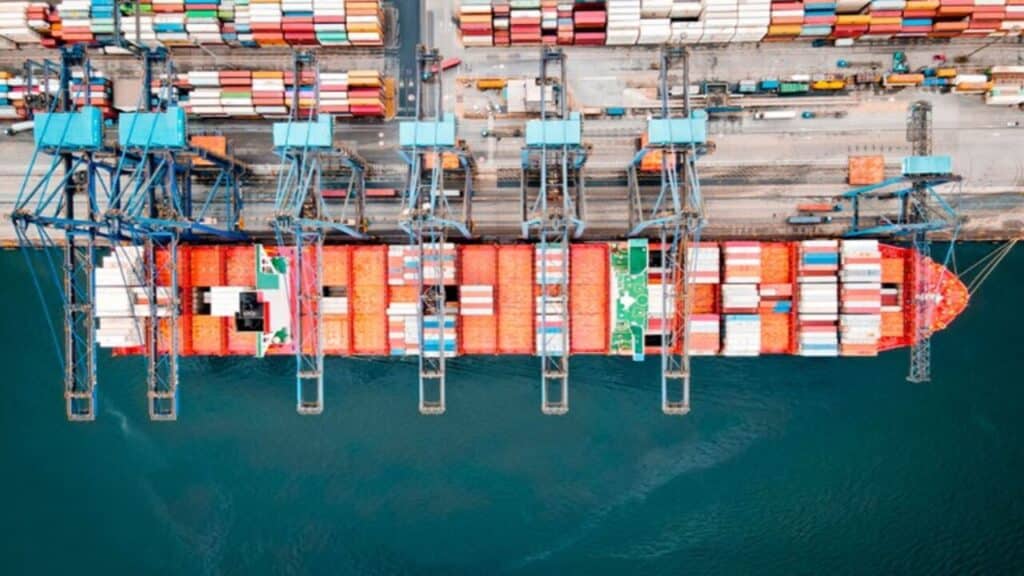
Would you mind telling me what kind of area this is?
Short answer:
port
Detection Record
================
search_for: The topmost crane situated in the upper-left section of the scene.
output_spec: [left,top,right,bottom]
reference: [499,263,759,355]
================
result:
[115,0,166,60]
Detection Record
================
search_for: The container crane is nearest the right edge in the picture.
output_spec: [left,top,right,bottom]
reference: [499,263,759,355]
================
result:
[832,81,957,384]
